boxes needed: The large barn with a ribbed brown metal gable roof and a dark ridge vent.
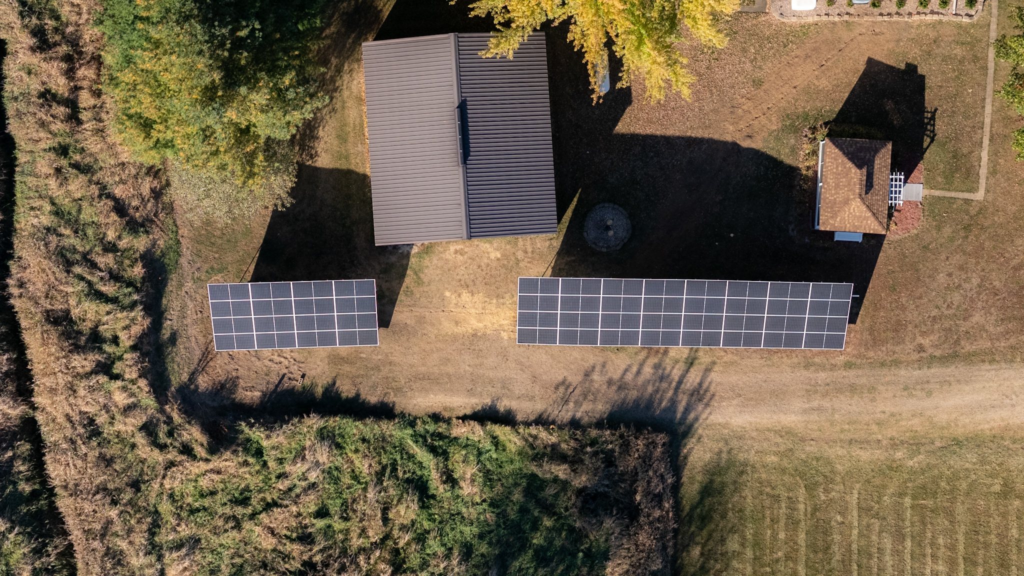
[362,31,557,245]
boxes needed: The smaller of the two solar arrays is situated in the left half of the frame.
[206,279,378,350]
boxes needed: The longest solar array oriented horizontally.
[518,277,859,349]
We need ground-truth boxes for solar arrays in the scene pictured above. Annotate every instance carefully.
[206,279,378,350]
[518,277,859,349]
